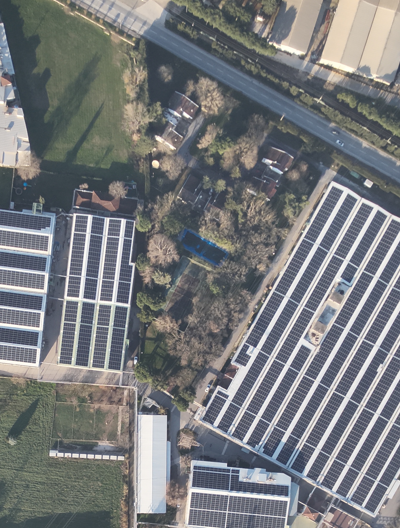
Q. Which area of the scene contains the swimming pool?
center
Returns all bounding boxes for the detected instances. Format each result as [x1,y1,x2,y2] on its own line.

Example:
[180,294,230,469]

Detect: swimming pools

[181,229,228,264]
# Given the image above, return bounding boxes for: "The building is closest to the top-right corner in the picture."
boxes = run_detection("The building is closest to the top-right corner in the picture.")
[319,0,400,89]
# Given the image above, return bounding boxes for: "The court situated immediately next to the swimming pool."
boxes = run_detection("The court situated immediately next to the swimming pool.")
[163,256,213,332]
